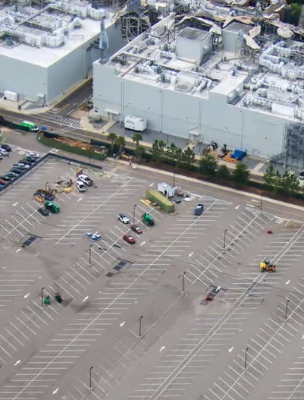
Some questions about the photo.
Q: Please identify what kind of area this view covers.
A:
parking lot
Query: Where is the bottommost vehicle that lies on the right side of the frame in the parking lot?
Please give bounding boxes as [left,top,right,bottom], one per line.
[259,257,278,273]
